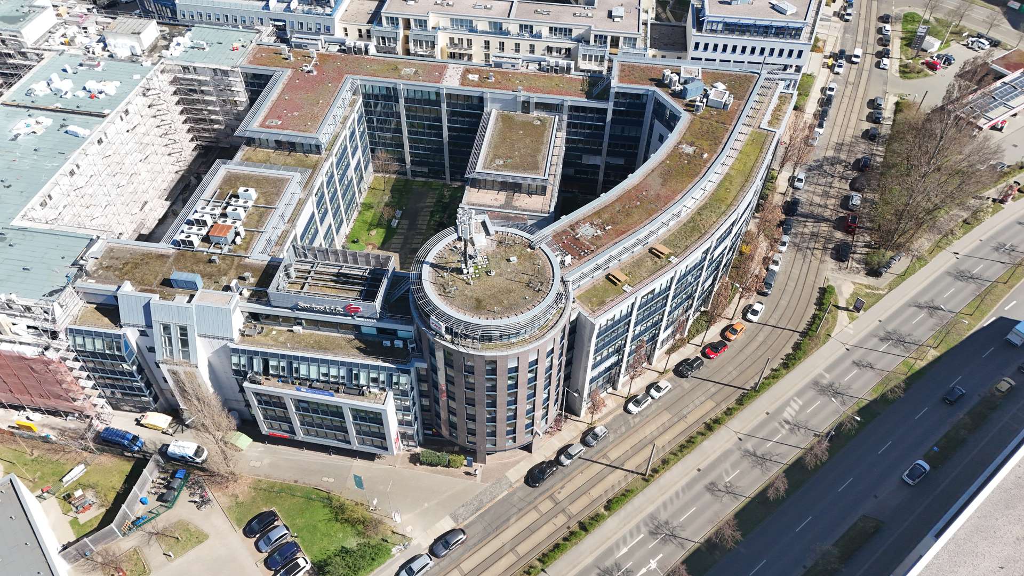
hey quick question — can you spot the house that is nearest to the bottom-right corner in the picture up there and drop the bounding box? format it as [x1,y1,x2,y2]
[903,443,1024,576]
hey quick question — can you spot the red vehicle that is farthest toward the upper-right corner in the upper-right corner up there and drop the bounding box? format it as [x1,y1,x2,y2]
[922,58,943,71]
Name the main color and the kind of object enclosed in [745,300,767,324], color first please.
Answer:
white car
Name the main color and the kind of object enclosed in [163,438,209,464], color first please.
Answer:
white vehicle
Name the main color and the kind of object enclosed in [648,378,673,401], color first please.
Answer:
white car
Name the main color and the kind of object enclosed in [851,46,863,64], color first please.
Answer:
white vehicle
